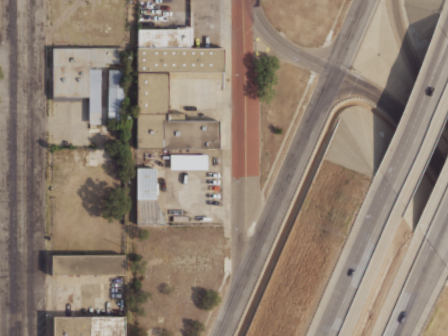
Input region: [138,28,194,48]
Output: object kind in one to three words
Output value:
building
